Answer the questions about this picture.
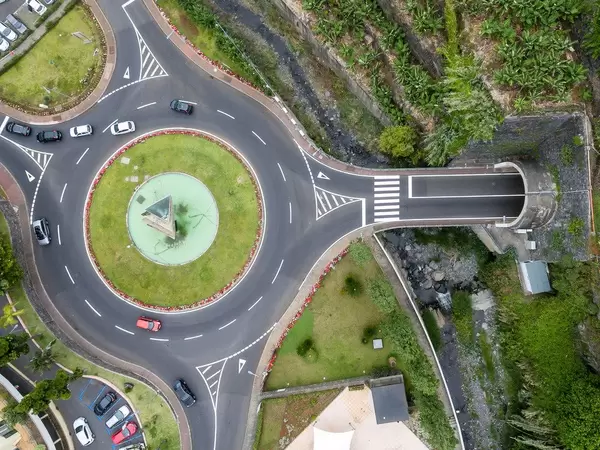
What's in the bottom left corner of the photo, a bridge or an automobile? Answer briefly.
automobile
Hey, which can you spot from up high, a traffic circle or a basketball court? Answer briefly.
traffic circle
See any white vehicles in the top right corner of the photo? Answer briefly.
No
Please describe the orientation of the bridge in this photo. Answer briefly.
from left to right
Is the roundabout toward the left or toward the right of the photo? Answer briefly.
left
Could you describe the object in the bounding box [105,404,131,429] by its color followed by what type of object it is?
white car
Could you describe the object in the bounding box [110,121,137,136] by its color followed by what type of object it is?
white car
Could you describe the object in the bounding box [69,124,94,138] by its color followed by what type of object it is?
white vehicle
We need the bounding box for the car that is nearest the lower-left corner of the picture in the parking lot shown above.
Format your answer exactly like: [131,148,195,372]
[75,417,95,446]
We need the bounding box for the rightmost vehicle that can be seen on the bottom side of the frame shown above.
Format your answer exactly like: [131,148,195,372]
[174,378,196,407]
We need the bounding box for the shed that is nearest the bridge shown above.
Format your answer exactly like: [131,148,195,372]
[517,261,552,294]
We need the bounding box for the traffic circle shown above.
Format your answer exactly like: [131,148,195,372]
[33,79,316,362]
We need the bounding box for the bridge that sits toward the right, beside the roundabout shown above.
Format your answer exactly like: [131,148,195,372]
[326,154,524,234]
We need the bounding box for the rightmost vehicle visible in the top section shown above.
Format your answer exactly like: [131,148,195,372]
[169,99,195,115]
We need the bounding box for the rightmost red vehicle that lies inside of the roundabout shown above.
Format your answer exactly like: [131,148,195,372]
[136,316,162,332]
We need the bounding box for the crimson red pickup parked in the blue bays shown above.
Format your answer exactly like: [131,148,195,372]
[111,421,138,445]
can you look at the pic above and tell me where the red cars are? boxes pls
[111,421,138,445]
[136,316,162,332]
